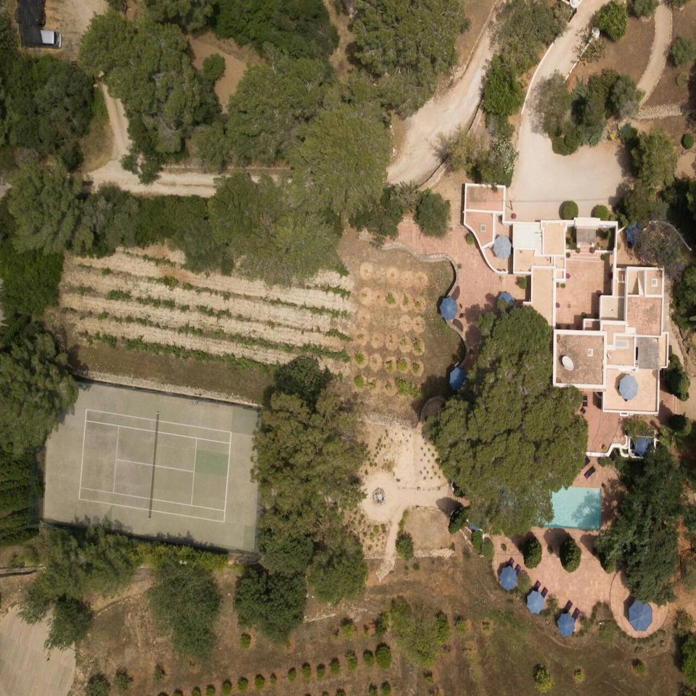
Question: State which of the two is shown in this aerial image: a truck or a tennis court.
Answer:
tennis court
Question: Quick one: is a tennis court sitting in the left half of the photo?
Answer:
Yes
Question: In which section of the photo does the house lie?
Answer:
right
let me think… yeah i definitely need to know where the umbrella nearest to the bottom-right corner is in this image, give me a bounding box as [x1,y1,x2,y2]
[629,601,651,629]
